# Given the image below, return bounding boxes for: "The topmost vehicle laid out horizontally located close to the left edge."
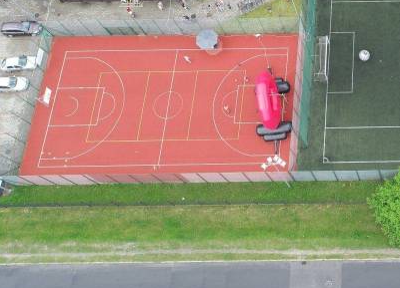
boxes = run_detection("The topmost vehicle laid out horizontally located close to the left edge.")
[0,20,43,39]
